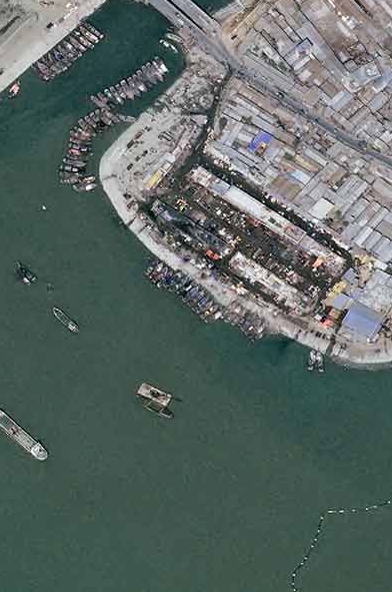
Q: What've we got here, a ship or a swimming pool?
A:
ship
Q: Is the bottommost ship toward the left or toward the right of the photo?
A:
left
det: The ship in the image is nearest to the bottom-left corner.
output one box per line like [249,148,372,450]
[0,410,49,462]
